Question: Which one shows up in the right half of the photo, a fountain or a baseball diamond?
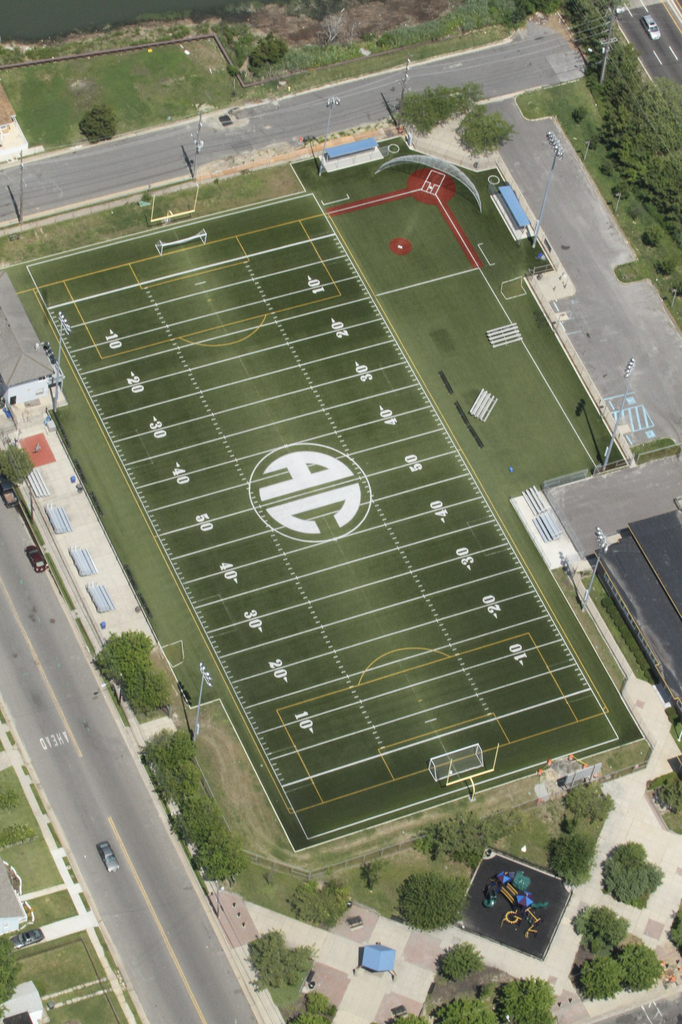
baseball diamond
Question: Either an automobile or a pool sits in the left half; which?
automobile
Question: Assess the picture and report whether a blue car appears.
No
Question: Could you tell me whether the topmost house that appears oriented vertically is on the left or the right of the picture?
left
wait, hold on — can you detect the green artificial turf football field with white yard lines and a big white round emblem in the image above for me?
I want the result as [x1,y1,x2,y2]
[5,163,639,852]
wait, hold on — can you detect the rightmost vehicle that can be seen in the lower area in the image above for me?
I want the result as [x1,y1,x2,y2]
[96,838,120,872]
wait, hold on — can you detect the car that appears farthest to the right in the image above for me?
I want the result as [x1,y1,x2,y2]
[641,12,662,38]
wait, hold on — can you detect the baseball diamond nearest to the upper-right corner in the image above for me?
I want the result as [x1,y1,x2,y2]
[290,133,629,496]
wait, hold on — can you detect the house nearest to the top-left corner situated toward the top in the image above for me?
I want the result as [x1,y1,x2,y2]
[0,84,29,154]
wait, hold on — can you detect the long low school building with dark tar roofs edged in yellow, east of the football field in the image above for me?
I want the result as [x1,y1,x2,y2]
[593,509,682,720]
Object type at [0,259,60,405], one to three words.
building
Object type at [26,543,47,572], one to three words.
car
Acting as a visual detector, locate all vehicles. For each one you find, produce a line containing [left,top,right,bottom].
[96,838,120,872]
[26,543,47,572]
[8,925,46,949]
[641,12,662,38]
[0,474,20,505]
[613,0,627,13]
